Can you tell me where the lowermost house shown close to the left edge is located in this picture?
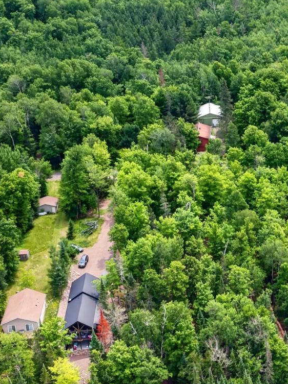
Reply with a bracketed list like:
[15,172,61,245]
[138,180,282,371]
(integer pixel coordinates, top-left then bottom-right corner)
[2,289,48,335]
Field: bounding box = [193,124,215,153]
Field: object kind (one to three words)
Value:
barn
